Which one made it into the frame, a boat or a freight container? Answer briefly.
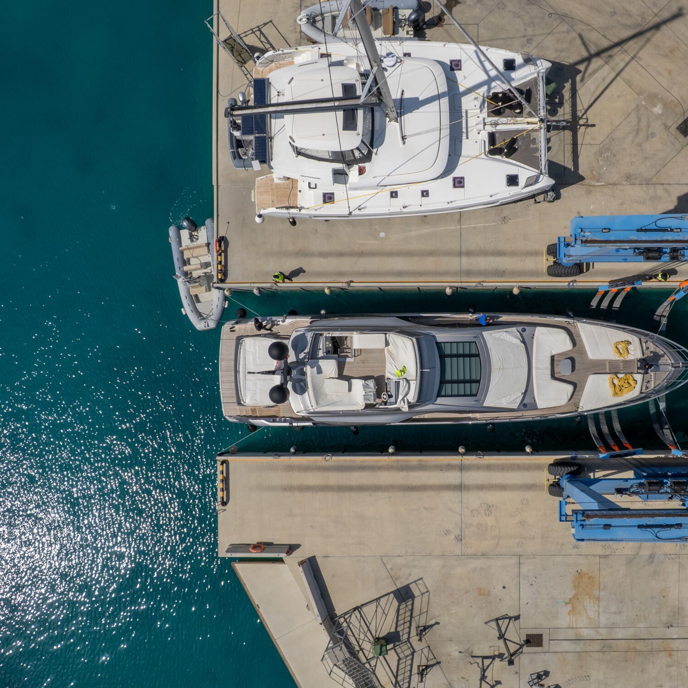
boat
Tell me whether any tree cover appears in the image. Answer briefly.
No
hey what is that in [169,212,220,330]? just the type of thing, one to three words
boat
